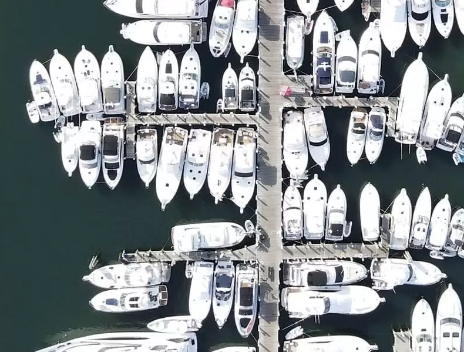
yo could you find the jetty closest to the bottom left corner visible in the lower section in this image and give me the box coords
[119,243,257,264]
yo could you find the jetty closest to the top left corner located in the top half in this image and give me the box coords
[126,81,257,159]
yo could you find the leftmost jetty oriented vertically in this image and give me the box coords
[256,0,284,352]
